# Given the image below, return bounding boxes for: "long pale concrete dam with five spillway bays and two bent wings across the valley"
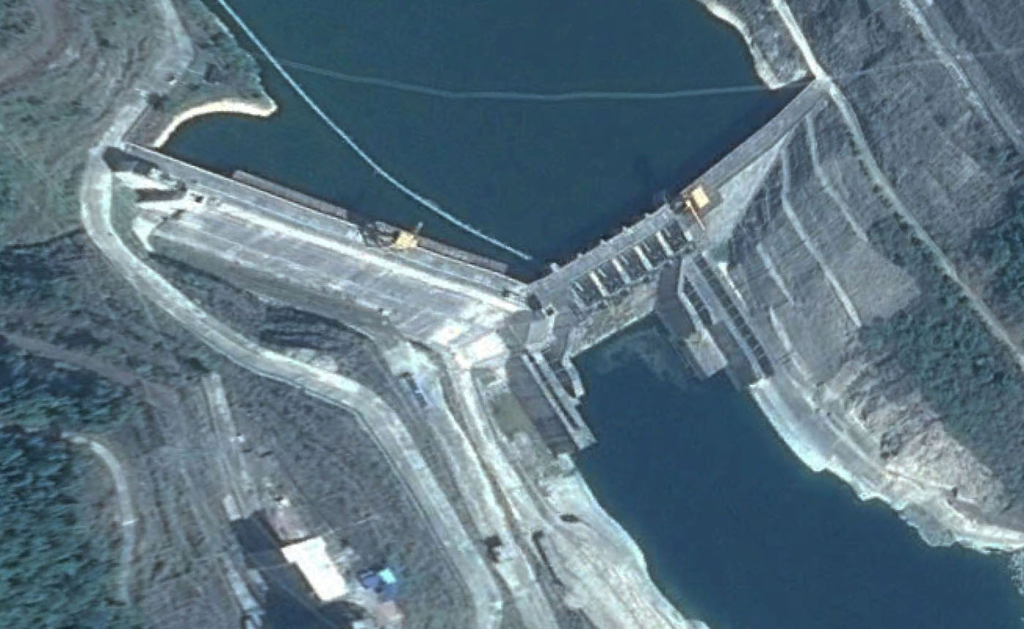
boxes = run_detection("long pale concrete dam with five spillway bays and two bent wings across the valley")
[112,78,833,471]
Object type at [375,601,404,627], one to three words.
house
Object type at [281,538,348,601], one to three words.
house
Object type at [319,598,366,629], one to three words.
shed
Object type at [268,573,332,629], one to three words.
building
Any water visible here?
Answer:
Yes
